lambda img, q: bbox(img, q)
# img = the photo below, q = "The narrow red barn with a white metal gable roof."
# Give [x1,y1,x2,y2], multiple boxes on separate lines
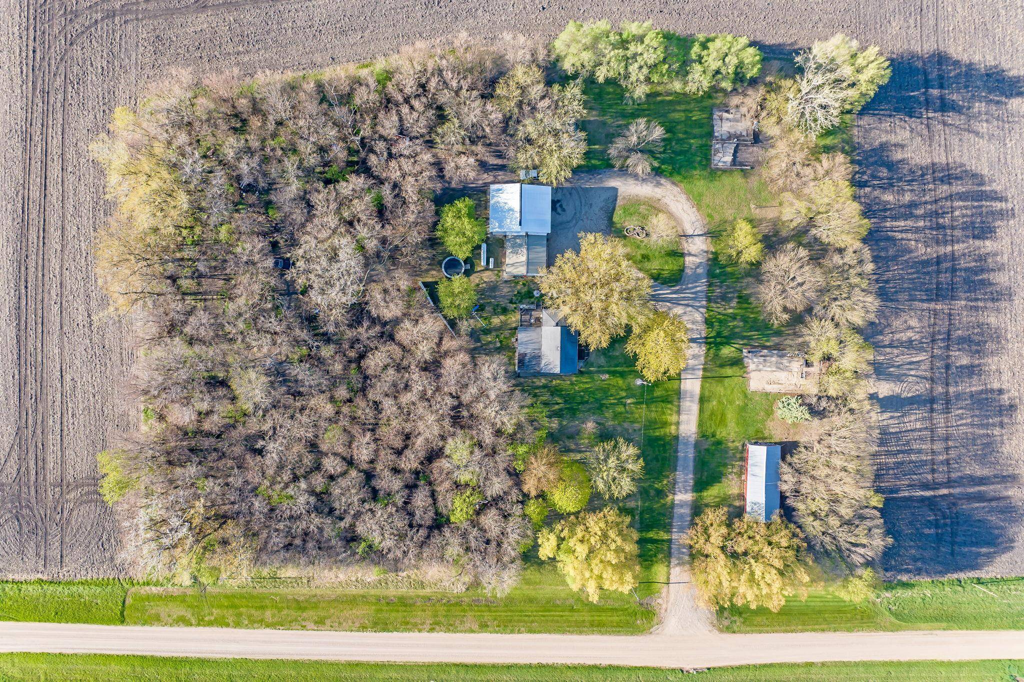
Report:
[744,442,781,523]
